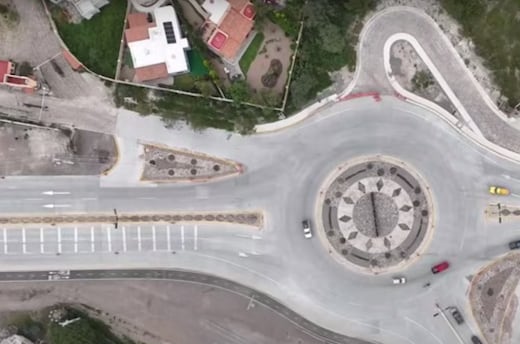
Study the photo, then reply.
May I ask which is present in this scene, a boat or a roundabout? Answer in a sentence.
The image shows a roundabout.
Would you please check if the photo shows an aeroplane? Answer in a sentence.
No, I find no aeroplane anywhere in the image.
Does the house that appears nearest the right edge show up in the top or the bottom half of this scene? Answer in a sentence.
You can find the house that appears nearest the right edge in the top half.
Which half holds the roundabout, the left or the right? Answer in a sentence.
The roundabout appears in the right half of the scene.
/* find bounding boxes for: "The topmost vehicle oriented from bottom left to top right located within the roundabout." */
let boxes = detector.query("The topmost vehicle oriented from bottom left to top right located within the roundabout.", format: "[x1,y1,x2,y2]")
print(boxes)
[429,260,450,275]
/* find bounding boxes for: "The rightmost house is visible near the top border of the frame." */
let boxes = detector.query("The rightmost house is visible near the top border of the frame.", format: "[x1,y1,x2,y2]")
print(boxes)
[202,0,259,81]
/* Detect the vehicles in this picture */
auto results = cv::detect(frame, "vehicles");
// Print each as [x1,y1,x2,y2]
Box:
[451,308,464,325]
[471,334,483,344]
[429,260,450,275]
[508,239,520,249]
[488,186,509,195]
[302,220,312,239]
[391,278,407,285]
